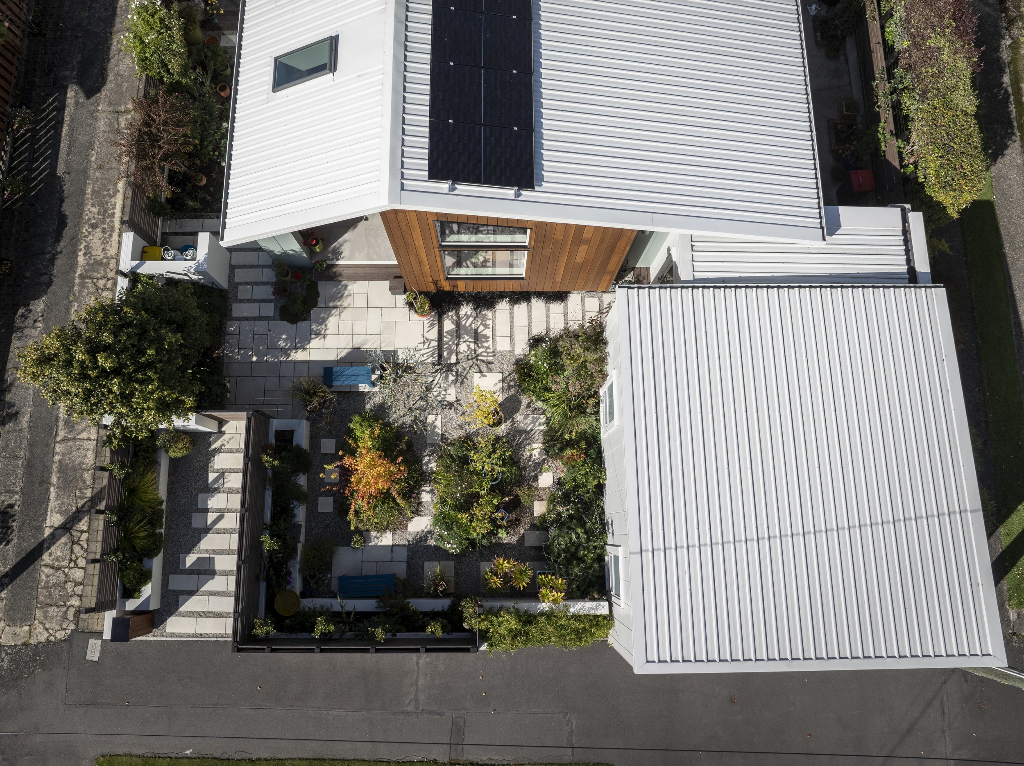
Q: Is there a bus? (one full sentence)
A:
No, the photo shows no bus.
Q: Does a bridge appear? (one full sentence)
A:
No, this view has no bridge in it.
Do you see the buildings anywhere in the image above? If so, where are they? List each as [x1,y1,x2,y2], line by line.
[599,281,1011,676]
[211,0,832,291]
